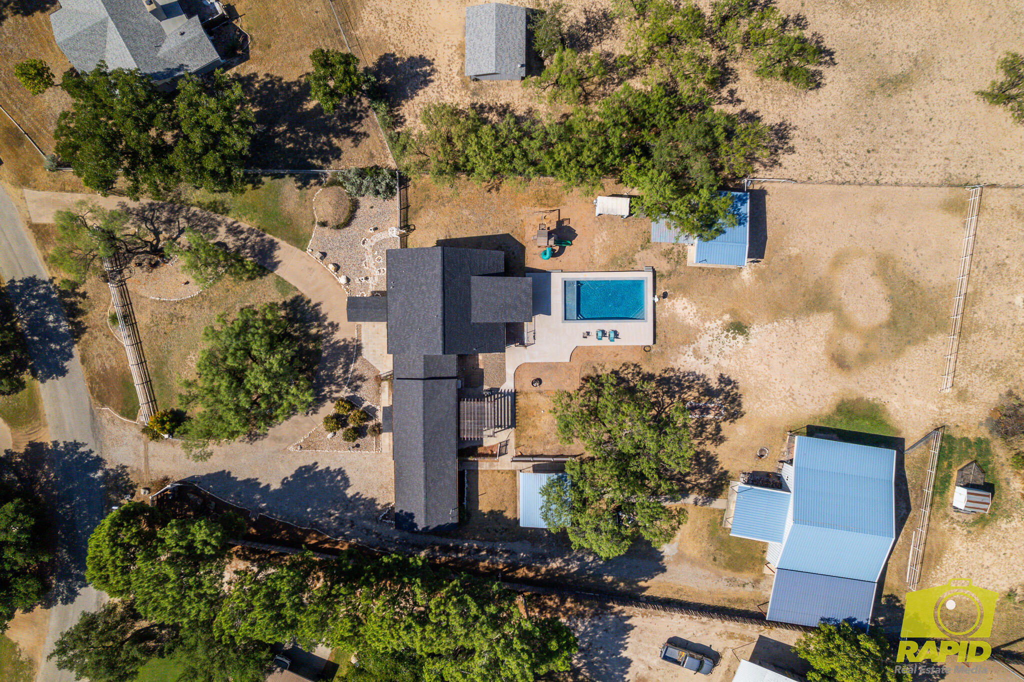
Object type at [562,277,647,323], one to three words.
swimming pool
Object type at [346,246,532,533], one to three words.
house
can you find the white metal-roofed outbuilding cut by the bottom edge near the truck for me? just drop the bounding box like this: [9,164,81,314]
[731,647,798,682]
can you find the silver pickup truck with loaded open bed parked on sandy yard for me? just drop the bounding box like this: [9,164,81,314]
[656,641,717,678]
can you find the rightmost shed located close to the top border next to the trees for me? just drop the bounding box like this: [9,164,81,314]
[465,1,525,80]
